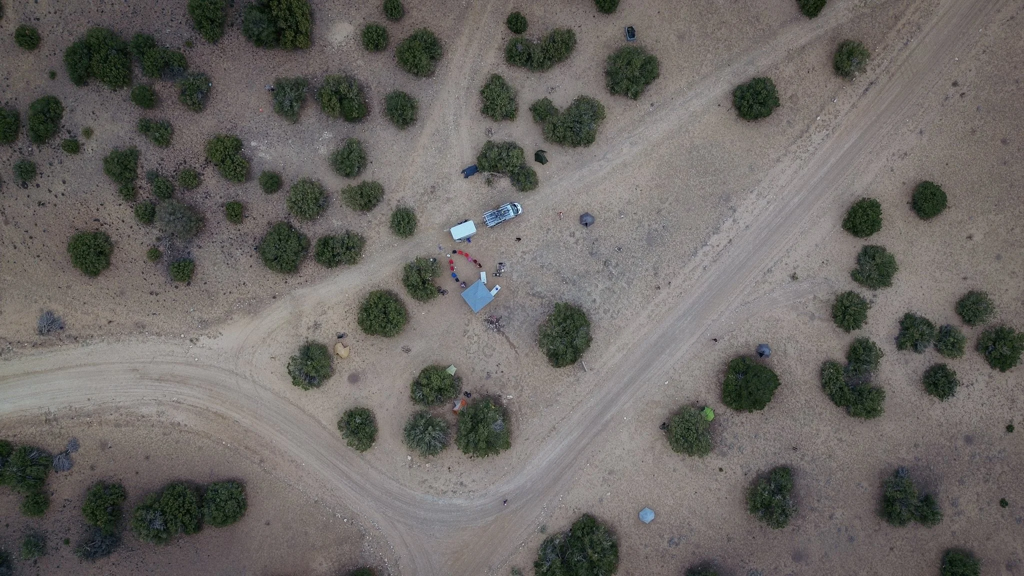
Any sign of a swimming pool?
No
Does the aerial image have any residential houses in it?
No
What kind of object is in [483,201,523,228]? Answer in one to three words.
vehicle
